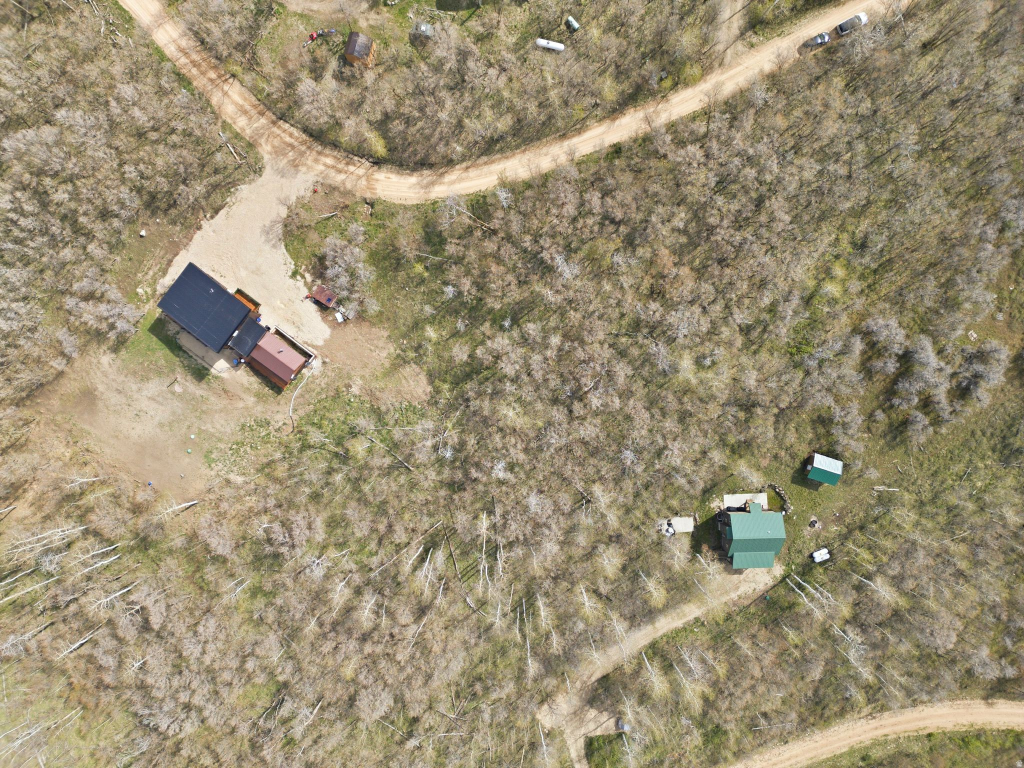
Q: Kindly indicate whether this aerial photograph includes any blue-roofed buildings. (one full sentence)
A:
Yes, there's a blue-roofed building down there.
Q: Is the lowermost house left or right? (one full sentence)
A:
It is on the right.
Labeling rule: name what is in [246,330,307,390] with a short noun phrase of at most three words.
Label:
building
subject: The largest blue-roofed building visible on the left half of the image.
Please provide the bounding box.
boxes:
[158,263,254,353]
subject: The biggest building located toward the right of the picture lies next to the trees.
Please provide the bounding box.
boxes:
[714,501,786,568]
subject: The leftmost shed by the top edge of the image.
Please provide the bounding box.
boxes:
[344,32,375,66]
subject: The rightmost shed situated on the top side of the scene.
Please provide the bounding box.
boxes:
[411,22,436,43]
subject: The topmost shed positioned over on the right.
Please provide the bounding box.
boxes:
[802,451,843,487]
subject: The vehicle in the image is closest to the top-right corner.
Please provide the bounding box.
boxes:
[833,13,870,37]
